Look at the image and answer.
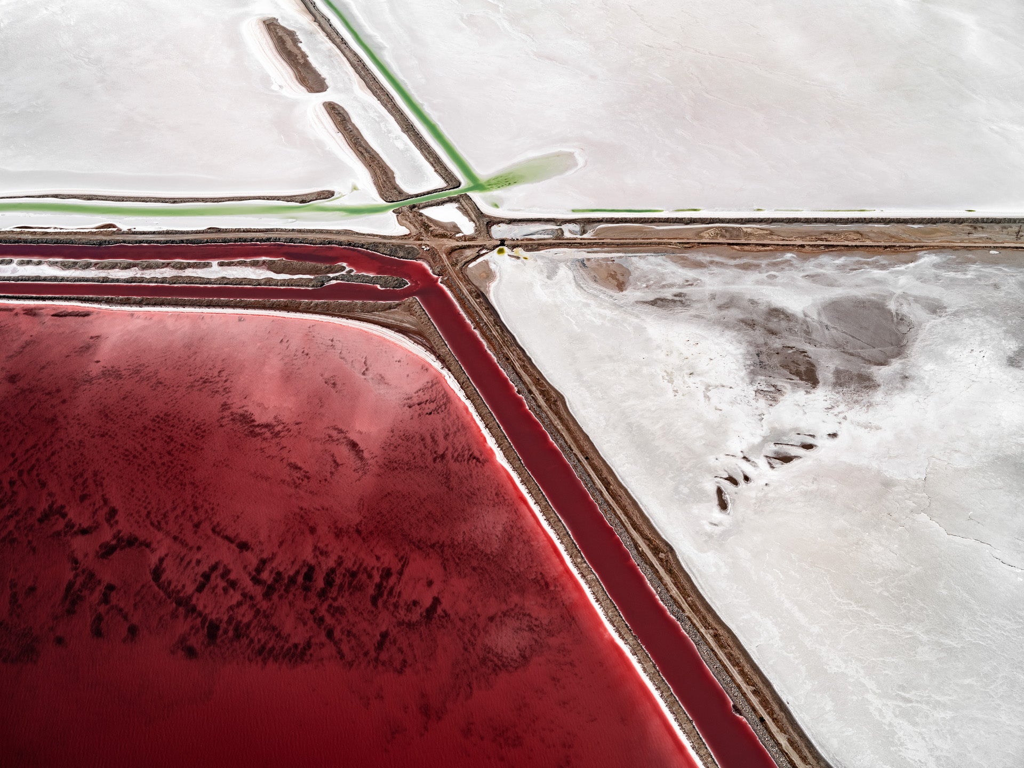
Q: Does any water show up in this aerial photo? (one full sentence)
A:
Yes, there is water in the image.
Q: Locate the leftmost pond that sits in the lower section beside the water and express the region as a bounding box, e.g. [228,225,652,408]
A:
[0,304,698,768]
